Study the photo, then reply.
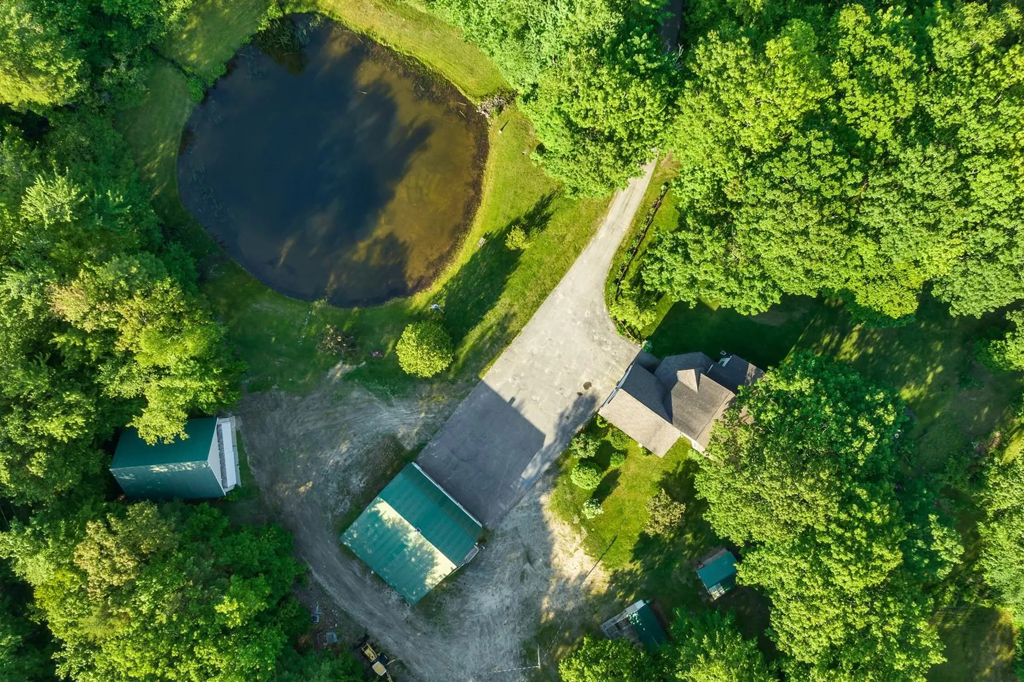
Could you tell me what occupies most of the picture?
trees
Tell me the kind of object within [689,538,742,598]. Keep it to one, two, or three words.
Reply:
shed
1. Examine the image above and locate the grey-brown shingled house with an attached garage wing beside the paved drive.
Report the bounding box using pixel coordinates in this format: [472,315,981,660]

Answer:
[597,348,766,458]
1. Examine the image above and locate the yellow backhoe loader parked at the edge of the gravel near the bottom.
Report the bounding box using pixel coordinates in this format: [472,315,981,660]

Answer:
[355,622,402,682]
